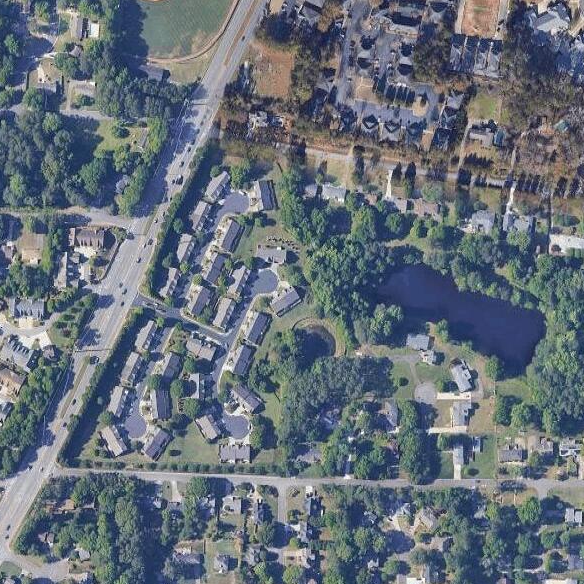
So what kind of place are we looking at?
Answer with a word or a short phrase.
residential area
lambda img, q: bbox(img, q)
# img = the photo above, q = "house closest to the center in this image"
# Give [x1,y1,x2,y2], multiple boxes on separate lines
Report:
[273,290,303,316]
